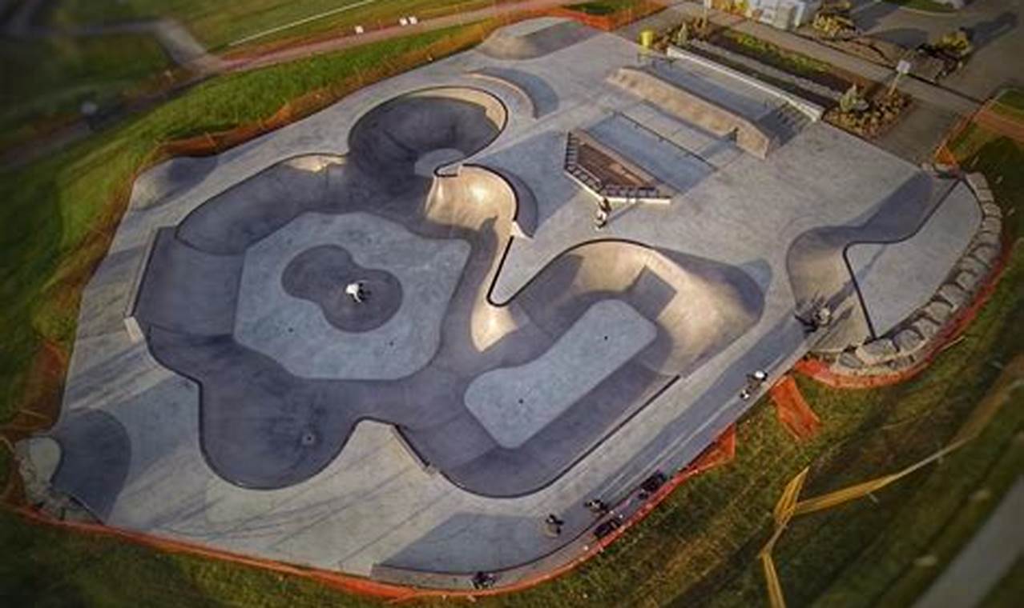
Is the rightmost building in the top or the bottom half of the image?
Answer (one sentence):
You can find the rightmost building in the top half.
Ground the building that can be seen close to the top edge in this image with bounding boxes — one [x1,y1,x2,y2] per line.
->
[753,0,814,29]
